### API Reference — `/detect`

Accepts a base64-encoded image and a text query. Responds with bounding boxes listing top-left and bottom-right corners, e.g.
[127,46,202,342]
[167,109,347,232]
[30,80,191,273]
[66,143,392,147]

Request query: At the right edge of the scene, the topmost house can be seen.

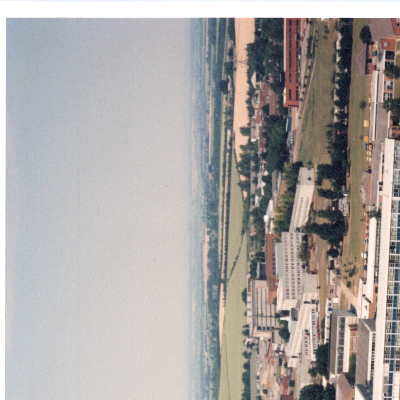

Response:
[372,9,400,40]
